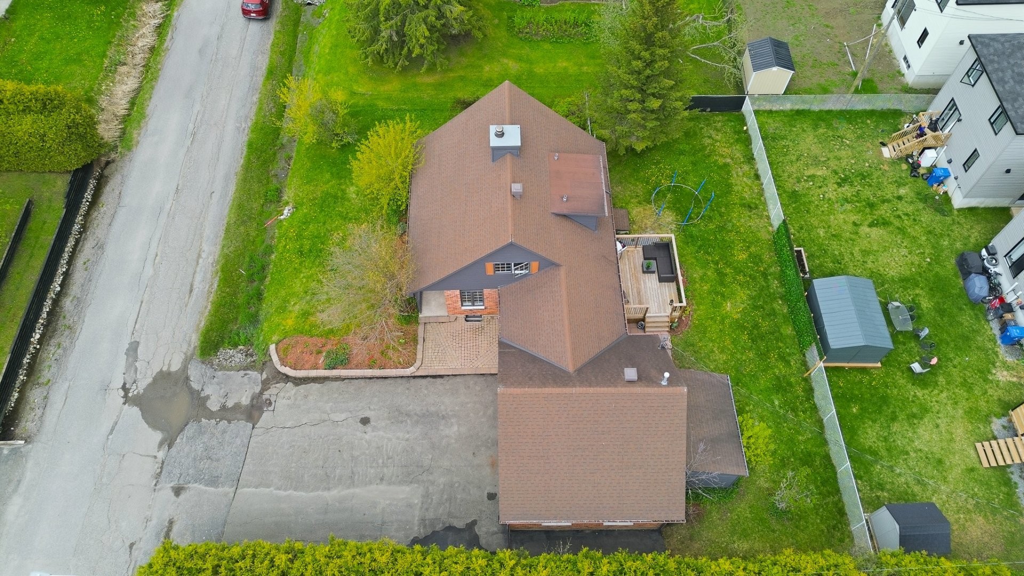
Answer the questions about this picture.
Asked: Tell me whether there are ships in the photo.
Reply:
No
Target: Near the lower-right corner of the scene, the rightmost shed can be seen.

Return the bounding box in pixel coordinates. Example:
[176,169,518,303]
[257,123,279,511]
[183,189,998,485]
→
[870,505,959,555]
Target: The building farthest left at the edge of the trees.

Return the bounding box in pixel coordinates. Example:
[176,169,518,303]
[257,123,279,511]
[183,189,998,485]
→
[404,80,751,537]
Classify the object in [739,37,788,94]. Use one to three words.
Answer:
shed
